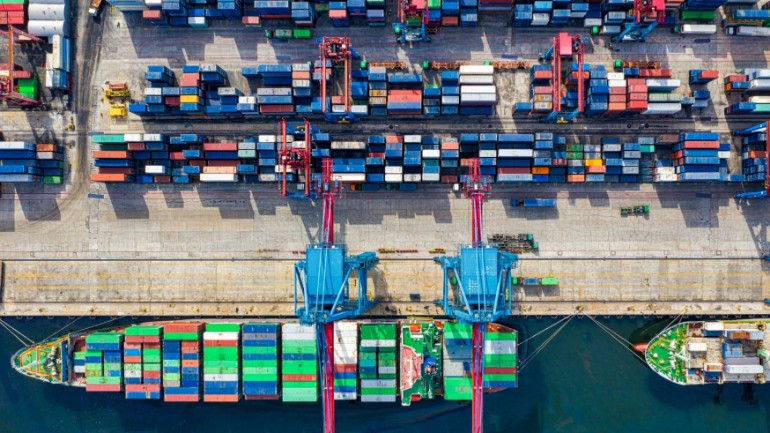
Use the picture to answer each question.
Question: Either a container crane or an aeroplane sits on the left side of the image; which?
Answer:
container crane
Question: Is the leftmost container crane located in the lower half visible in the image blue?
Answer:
Yes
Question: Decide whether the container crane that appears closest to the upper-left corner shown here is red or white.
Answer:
red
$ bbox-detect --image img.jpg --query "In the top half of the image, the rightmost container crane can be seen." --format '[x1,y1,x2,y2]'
[727,120,770,199]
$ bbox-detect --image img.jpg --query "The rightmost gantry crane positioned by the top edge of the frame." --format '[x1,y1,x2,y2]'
[608,0,665,44]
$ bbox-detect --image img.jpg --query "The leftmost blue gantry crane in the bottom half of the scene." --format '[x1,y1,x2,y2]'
[289,153,380,433]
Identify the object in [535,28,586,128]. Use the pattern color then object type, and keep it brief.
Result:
red container crane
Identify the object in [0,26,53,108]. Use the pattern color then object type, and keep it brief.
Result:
red container crane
